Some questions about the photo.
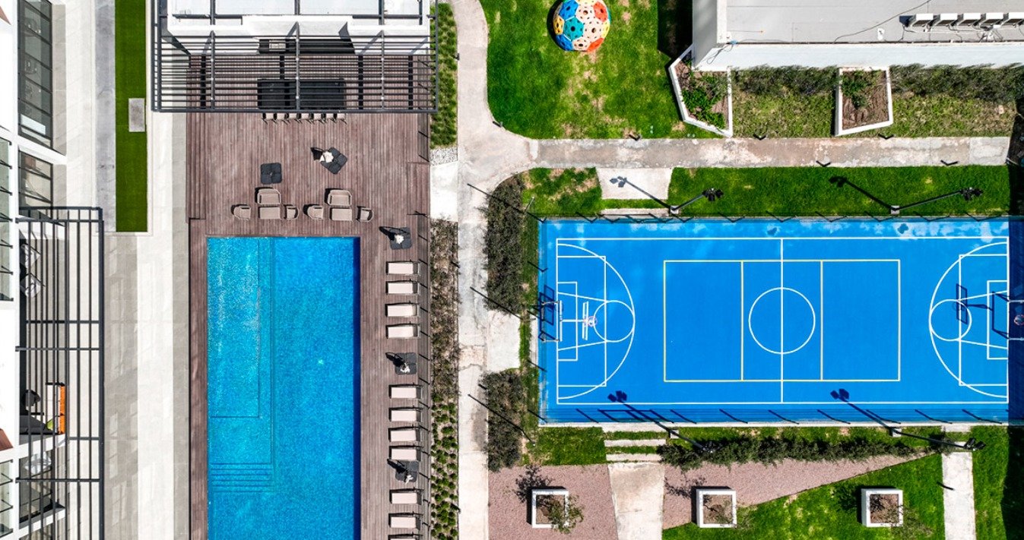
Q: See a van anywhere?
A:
No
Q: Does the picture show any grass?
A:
Yes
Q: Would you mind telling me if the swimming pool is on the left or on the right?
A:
left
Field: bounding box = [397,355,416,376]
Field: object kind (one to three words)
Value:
umbrella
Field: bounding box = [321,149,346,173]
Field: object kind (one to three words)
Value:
umbrella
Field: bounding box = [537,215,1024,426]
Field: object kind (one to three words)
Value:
sports court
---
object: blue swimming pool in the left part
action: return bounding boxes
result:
[206,235,363,540]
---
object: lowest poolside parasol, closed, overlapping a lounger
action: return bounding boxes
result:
[396,462,415,488]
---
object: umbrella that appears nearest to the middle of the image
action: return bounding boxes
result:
[391,229,410,248]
